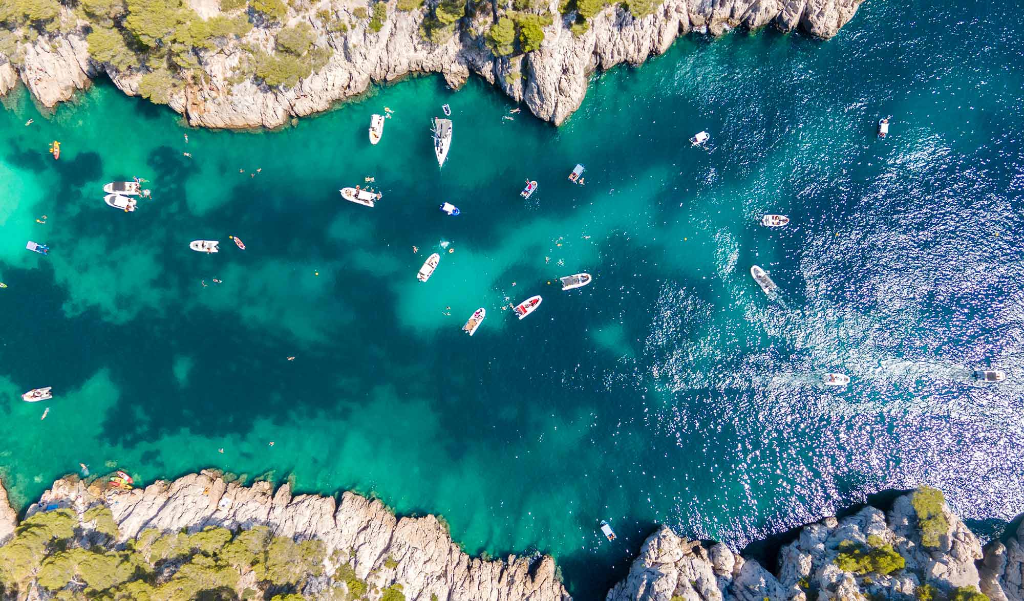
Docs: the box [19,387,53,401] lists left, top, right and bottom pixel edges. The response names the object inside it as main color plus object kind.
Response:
white boat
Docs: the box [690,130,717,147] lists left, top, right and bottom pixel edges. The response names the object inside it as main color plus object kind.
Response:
white boat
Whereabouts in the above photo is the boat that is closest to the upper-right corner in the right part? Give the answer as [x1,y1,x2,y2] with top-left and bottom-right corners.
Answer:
[878,117,891,141]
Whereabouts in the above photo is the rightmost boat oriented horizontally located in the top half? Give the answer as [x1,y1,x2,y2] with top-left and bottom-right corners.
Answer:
[758,214,791,227]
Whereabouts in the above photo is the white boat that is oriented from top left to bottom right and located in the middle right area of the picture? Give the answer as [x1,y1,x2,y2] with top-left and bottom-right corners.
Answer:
[752,264,777,294]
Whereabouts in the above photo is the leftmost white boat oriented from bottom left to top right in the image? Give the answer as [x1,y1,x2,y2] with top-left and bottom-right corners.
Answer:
[416,244,443,282]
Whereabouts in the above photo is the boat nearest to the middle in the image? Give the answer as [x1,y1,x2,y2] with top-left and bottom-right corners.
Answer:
[514,293,546,319]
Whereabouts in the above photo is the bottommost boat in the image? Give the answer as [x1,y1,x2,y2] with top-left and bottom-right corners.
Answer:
[601,521,619,544]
